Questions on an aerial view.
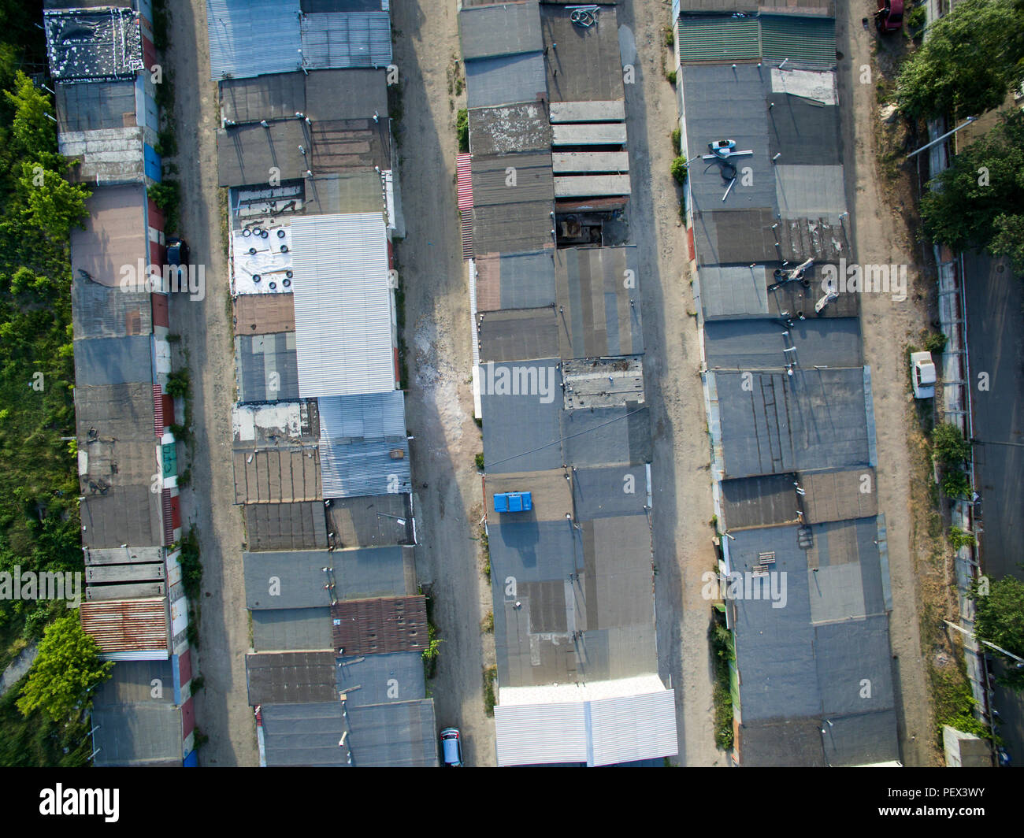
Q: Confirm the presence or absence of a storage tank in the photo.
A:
No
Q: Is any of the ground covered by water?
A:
No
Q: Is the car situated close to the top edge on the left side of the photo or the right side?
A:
right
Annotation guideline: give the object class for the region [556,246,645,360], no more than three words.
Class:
building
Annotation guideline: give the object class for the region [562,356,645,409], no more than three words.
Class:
building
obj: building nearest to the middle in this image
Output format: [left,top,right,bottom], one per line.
[472,358,567,473]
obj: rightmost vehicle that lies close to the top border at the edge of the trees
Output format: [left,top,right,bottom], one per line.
[870,0,906,32]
